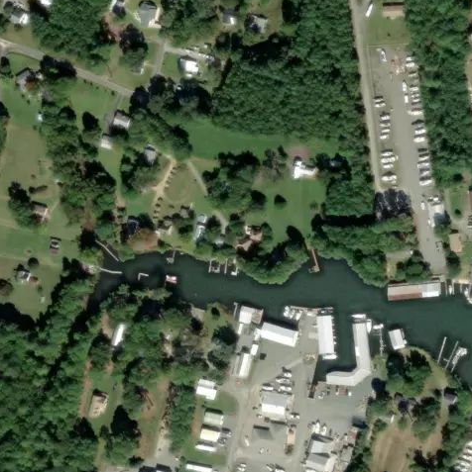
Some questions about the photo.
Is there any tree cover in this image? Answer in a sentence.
Yes, the picture does contain tree cover.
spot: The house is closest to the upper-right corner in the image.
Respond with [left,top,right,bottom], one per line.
[381,2,406,16]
